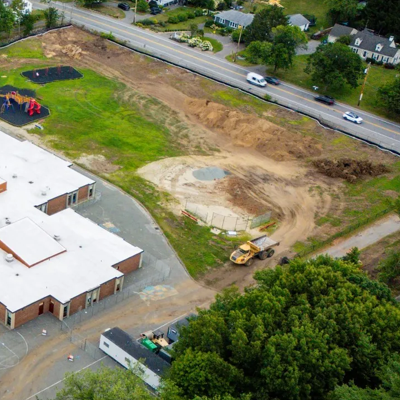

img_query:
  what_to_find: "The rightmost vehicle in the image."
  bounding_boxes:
[341,109,362,122]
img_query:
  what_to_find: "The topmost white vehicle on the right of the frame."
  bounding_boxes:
[244,69,267,86]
